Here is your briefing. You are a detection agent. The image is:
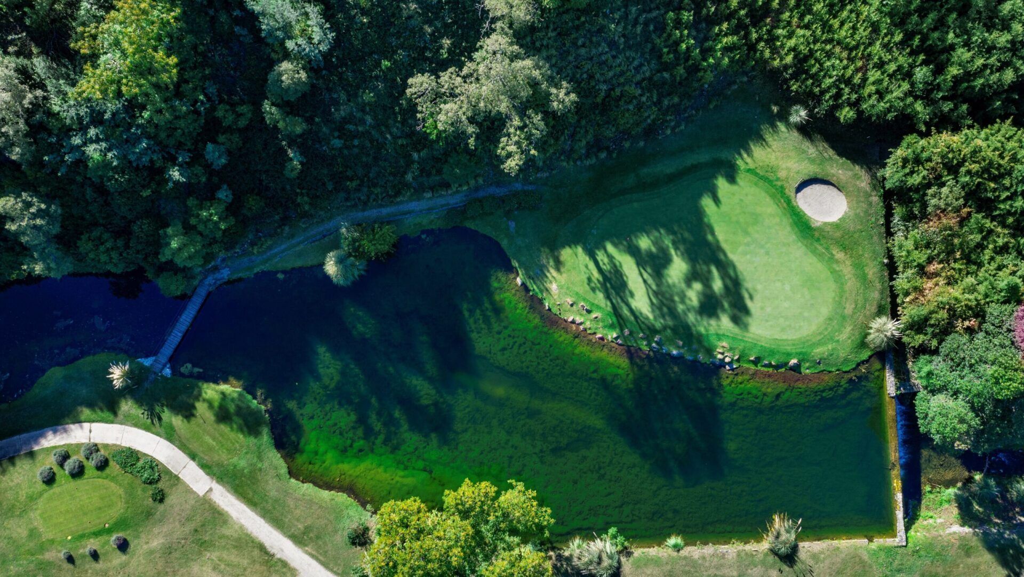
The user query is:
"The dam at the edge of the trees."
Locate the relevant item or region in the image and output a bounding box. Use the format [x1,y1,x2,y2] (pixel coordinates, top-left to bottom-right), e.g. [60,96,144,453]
[883,347,906,546]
